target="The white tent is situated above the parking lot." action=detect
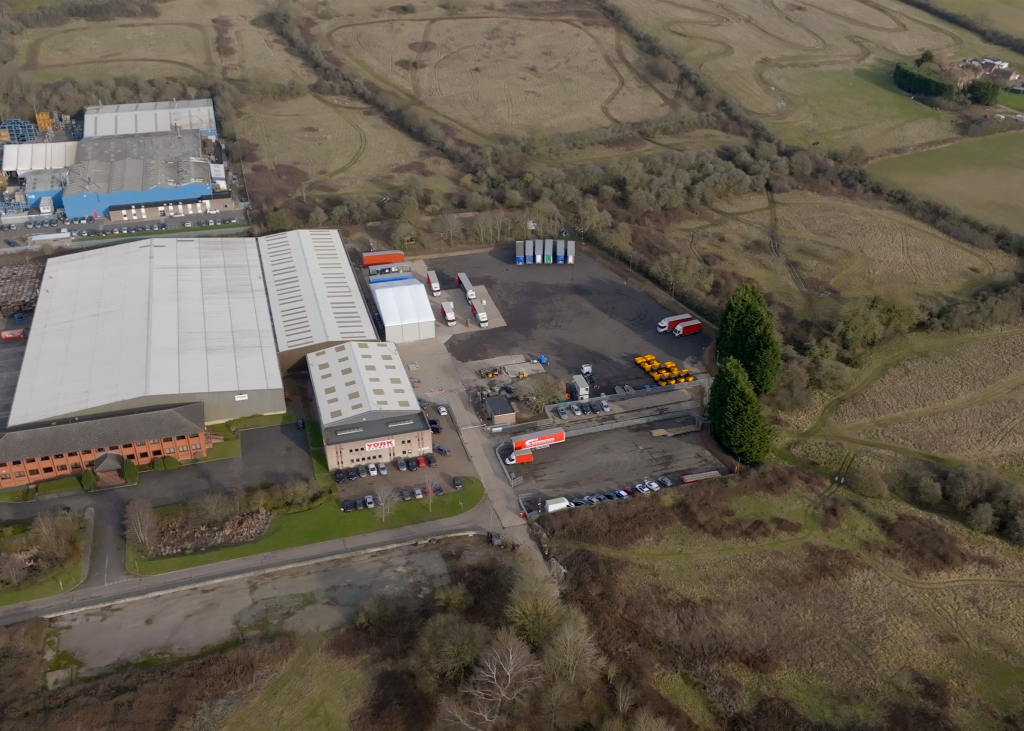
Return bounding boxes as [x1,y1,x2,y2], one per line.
[367,275,438,342]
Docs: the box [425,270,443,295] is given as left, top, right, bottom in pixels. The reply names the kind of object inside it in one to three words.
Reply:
vehicle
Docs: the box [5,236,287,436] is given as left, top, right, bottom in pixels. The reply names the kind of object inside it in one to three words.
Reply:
warehouse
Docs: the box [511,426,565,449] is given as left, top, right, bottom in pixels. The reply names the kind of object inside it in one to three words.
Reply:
trailer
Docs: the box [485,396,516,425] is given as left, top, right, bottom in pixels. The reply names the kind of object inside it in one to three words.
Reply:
shed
